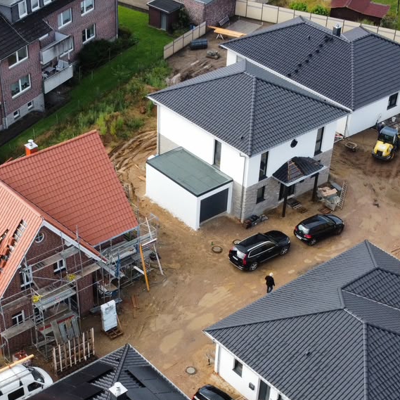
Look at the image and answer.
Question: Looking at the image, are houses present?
Yes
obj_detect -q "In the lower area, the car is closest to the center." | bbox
[225,227,295,270]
